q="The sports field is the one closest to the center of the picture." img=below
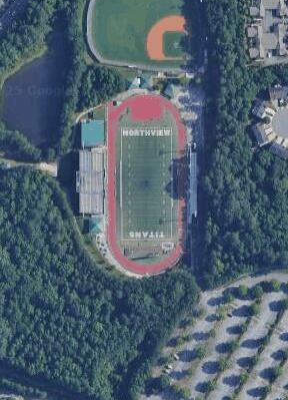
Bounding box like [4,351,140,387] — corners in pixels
[116,109,179,267]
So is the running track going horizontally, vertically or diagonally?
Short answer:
vertically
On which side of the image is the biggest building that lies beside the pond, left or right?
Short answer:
left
